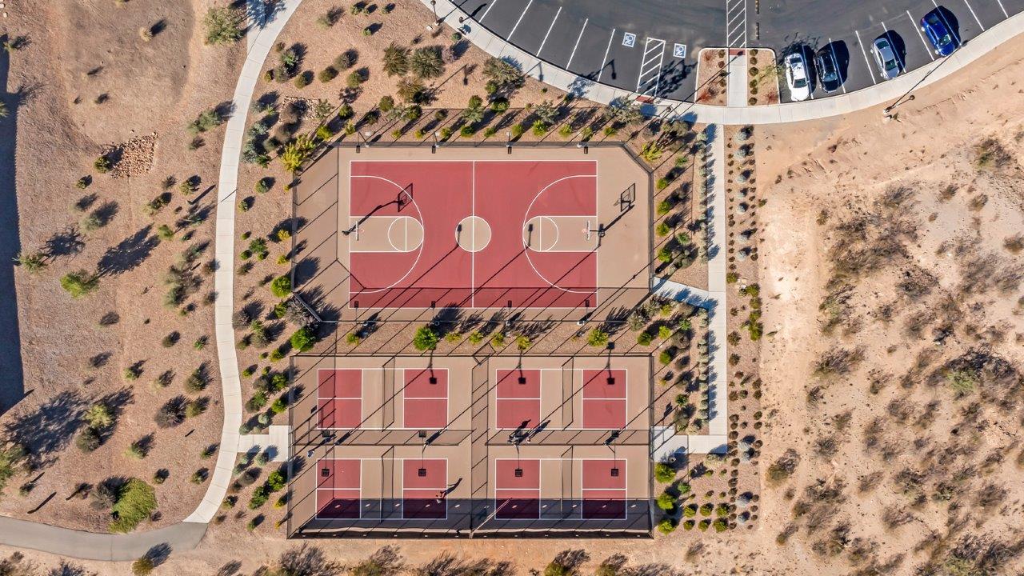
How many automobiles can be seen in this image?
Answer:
four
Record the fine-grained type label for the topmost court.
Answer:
basketball court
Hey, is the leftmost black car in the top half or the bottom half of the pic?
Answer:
top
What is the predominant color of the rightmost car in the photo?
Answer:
blue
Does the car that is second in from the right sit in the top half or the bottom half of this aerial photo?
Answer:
top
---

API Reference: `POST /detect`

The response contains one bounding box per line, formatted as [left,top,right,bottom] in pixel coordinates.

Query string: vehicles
[876,34,903,80]
[925,9,957,56]
[786,52,812,101]
[817,48,843,94]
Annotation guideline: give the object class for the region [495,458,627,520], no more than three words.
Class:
sports court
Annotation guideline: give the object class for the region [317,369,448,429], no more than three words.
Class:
sports court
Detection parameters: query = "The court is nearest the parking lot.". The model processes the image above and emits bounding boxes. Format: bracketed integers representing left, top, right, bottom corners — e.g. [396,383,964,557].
[298,148,647,321]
